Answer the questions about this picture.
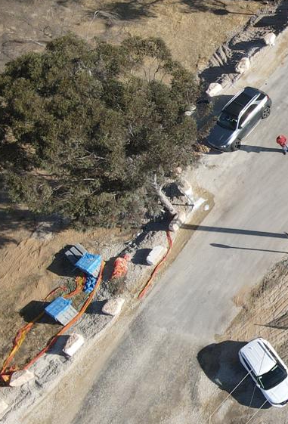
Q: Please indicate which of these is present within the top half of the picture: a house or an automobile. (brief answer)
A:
automobile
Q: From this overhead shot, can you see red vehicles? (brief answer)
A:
No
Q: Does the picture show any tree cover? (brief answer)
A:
Yes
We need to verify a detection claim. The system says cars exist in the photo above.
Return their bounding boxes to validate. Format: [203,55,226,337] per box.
[201,85,269,154]
[236,335,288,409]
